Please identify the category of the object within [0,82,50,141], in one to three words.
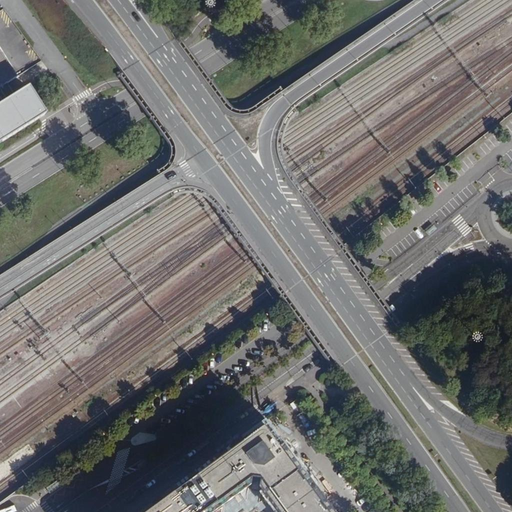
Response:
building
